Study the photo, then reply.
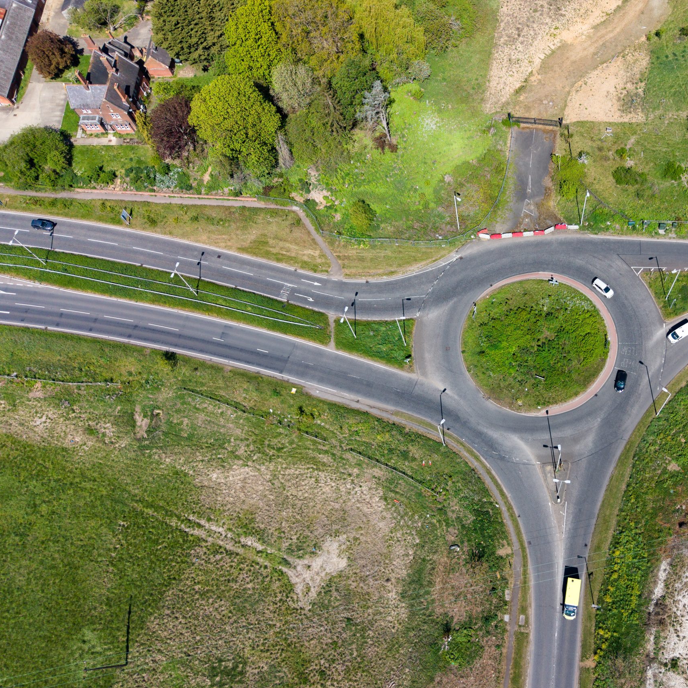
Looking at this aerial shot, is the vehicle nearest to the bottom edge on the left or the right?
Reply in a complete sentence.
The vehicle nearest to the bottom edge appears in the right half of the scene.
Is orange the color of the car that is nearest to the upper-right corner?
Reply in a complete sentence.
No, the car that is nearest to the upper-right corner is white.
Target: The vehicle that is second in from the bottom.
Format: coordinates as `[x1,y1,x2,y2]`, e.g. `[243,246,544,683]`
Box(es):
[614,369,627,394]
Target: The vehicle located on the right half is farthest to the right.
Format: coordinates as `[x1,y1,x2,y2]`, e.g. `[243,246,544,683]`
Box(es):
[667,323,688,344]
